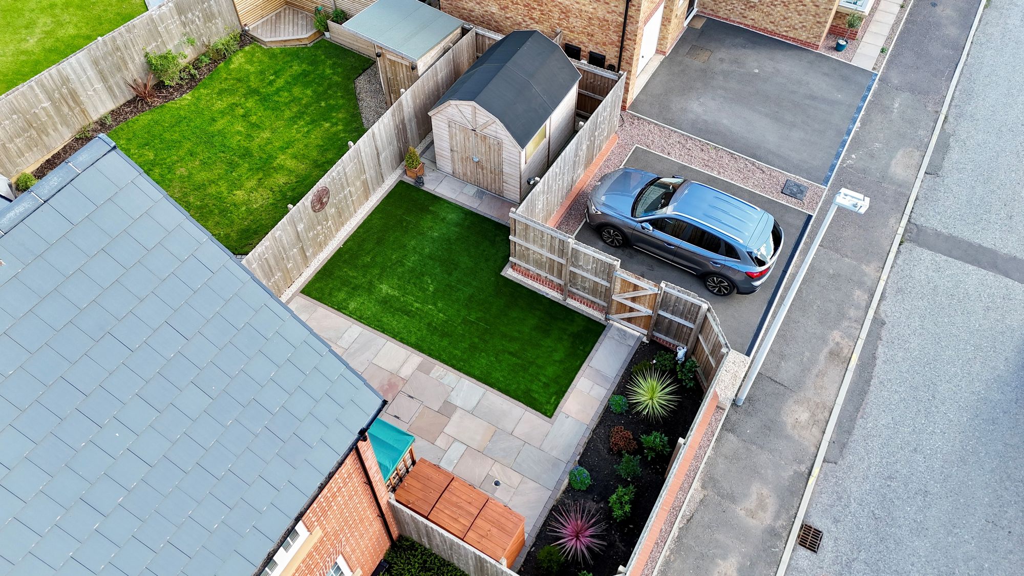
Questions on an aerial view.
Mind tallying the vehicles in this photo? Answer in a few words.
1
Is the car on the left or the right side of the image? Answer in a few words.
right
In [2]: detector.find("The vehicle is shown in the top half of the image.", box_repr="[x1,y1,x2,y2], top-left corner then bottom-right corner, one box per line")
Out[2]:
[585,167,786,292]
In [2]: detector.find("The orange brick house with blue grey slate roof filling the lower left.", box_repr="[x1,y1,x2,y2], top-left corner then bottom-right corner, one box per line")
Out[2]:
[0,128,400,576]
